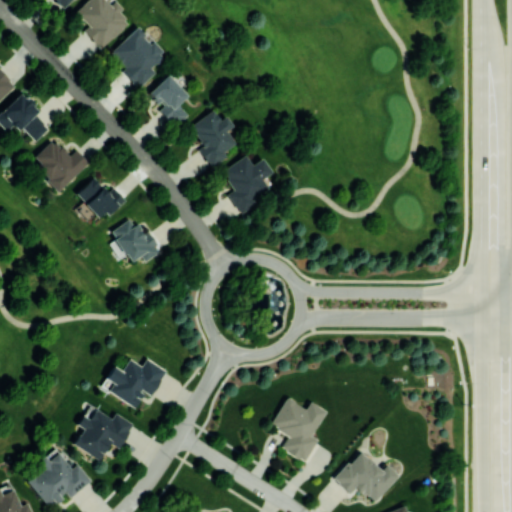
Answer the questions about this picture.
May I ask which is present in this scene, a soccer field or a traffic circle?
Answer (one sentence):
Of the two, only a traffic circle appears.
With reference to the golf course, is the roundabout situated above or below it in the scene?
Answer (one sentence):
As seen from overhead, the roundabout falls below the golf course in the picture.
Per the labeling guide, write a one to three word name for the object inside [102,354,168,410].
house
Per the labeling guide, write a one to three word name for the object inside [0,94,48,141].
house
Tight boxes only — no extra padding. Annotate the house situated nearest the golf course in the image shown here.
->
[226,156,274,215]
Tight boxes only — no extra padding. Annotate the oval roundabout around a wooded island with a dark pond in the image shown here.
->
[200,246,309,366]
